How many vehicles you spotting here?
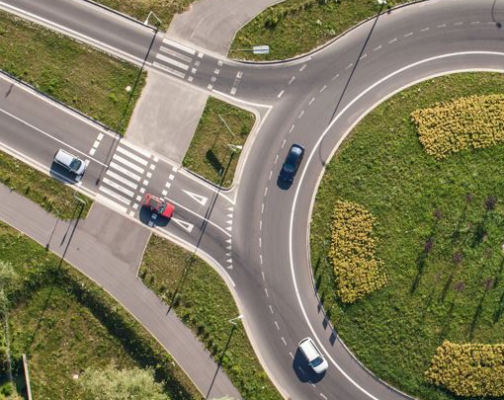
four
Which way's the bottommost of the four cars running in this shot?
diagonally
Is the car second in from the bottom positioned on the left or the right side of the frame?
left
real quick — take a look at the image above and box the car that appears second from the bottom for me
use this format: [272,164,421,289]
[142,193,175,217]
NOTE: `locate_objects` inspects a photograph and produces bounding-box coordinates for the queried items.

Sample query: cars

[52,148,87,174]
[281,143,305,184]
[142,193,175,217]
[297,336,328,372]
